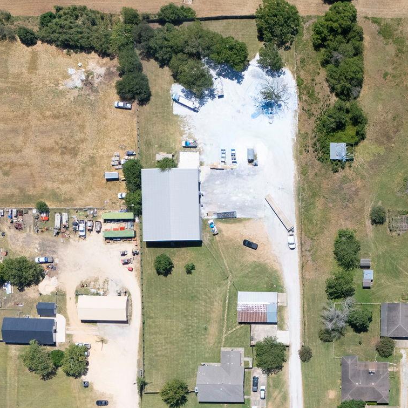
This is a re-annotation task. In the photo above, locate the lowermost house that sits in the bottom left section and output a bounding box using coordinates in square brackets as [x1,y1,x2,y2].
[0,317,58,343]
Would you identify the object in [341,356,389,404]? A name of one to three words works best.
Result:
house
